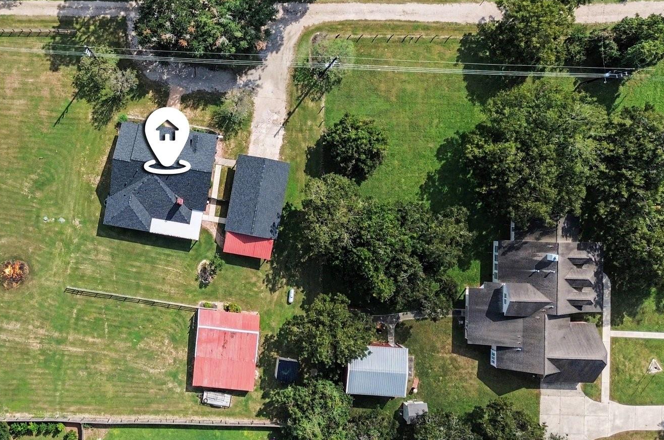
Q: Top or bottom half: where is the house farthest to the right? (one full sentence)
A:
The house farthest to the right is in the bottom half of the image.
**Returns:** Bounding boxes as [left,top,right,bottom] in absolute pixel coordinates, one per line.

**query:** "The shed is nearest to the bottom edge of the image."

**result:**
[400,399,428,424]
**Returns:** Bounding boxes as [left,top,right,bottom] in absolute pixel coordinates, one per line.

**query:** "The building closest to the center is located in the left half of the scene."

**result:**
[223,155,289,260]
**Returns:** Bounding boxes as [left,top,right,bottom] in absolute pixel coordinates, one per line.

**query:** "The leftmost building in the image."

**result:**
[102,122,223,240]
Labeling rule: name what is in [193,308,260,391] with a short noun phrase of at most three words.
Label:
barn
